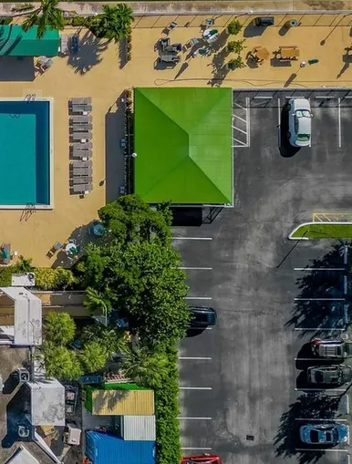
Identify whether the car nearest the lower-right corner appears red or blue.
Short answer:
blue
